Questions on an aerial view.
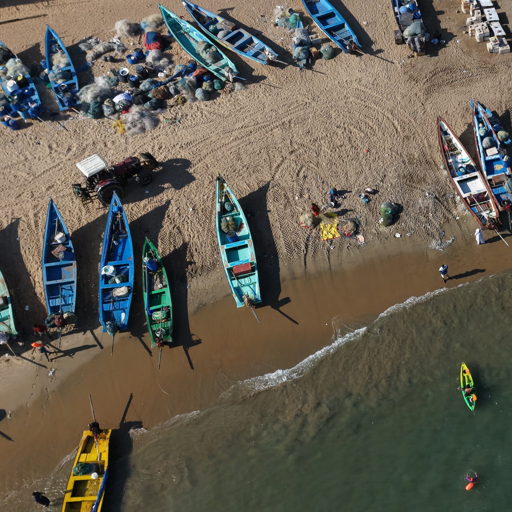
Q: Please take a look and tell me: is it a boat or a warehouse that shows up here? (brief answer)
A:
boat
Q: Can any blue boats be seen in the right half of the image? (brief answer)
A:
Yes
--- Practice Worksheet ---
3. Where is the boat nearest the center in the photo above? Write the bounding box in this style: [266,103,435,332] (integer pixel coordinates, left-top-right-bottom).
[214,170,266,337]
